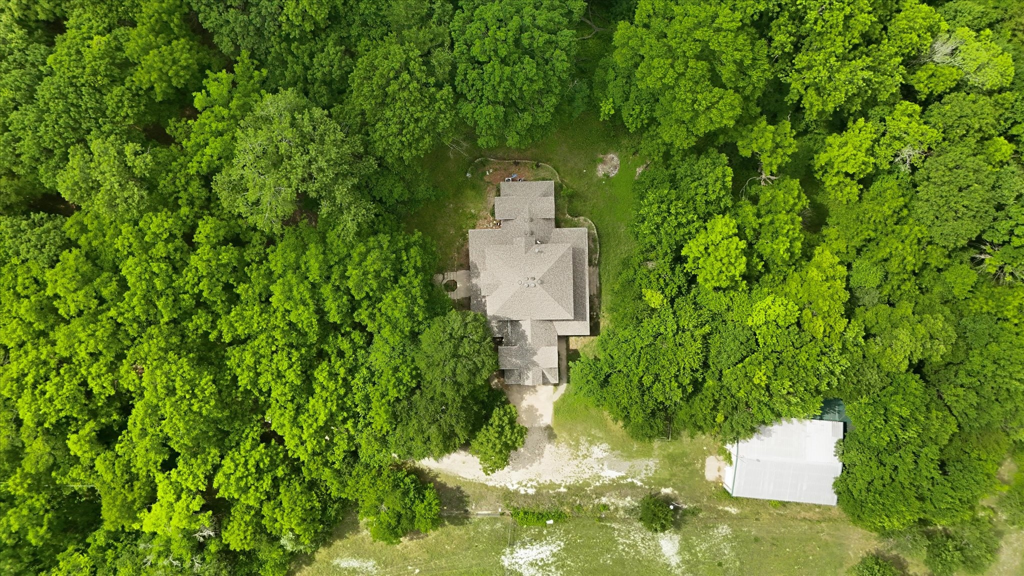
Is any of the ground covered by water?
No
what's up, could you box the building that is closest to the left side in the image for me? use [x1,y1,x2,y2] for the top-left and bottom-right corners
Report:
[468,181,590,386]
